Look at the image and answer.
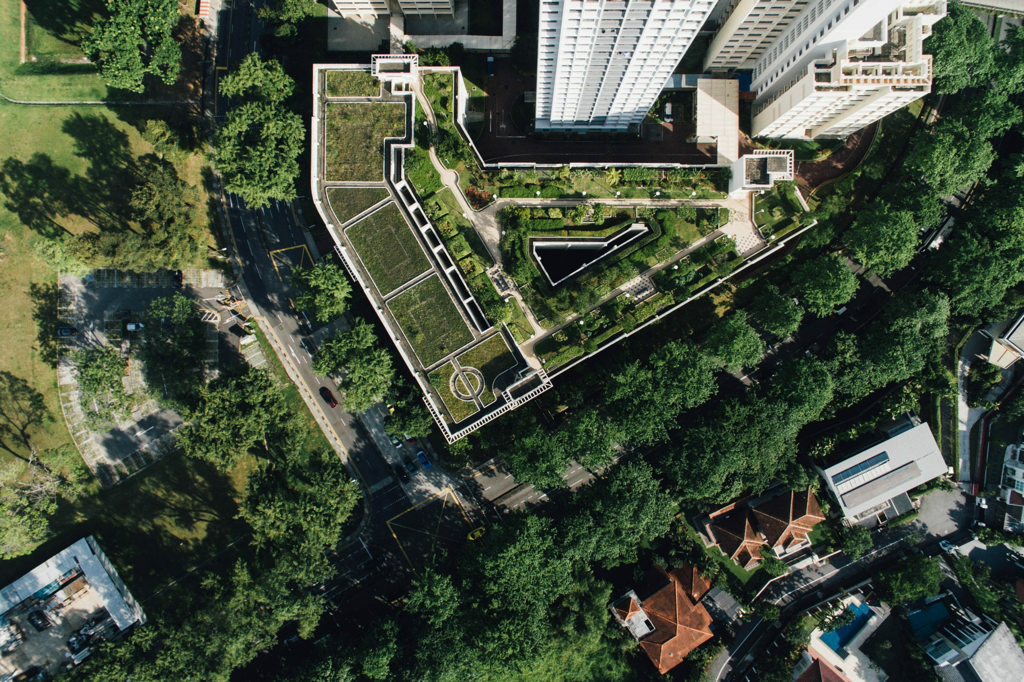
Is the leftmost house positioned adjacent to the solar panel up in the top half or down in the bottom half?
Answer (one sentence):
It is in the bottom half that the leftmost house positioned adjacent to the solar panel appears.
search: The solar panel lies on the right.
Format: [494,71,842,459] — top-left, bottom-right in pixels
[832,451,889,484]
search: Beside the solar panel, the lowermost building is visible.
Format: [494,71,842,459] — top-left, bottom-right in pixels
[692,490,827,571]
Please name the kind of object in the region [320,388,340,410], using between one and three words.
car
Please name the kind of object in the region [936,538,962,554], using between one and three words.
car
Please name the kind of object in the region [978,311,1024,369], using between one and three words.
house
